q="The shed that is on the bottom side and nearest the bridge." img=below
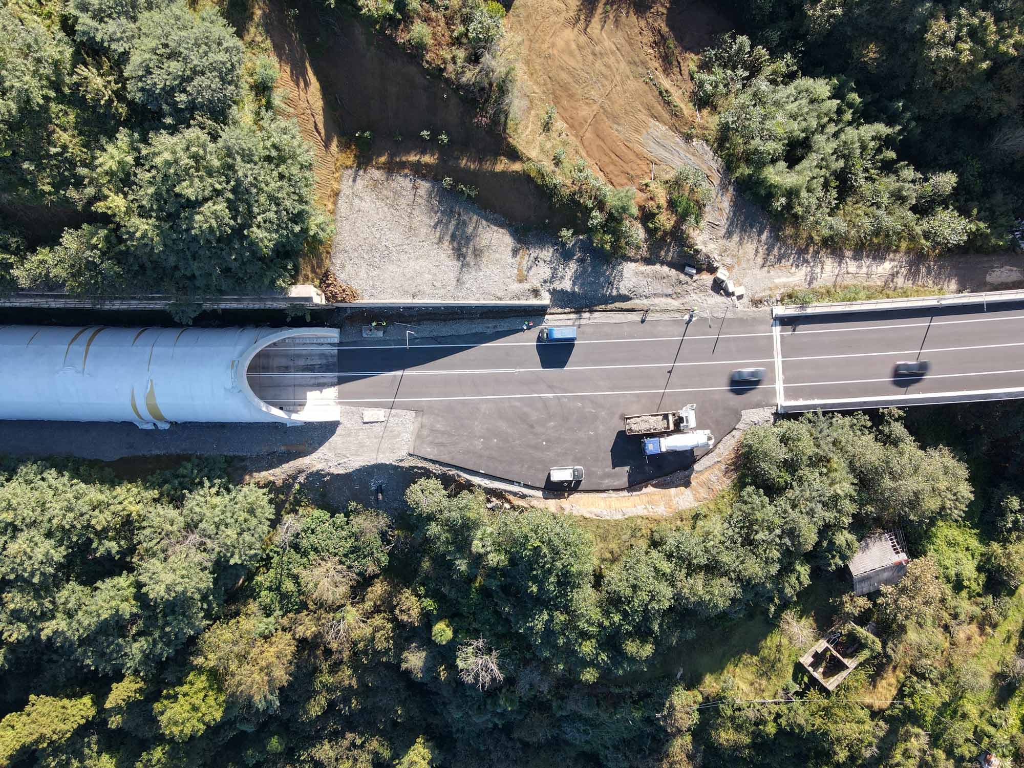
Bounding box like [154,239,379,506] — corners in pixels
[838,521,911,594]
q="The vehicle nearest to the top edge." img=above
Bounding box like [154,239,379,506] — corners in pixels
[540,328,578,345]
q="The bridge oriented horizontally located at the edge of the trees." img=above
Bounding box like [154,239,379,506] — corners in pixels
[767,289,1024,414]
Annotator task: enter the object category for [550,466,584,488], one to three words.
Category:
vehicle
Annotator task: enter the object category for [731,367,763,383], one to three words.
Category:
car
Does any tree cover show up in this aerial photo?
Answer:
Yes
